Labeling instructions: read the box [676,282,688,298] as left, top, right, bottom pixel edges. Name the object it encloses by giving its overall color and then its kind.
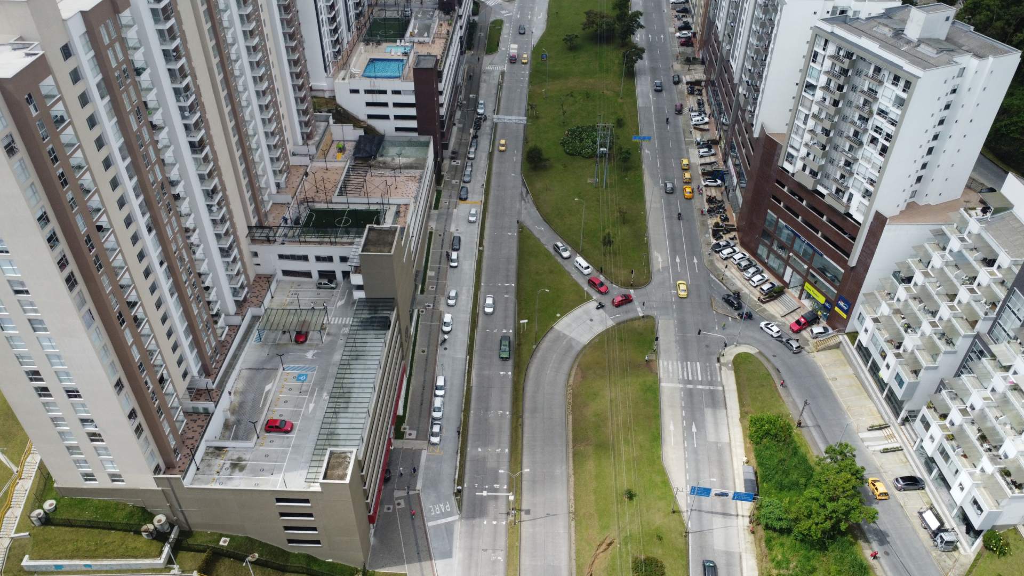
yellow vehicle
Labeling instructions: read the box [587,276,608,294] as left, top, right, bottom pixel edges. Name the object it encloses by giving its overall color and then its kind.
red car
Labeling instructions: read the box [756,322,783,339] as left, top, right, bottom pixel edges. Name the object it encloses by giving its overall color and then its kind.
white car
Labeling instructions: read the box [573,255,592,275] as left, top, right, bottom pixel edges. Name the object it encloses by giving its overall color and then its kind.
white vehicle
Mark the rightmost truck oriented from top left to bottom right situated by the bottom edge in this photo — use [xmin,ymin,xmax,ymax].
[913,505,961,552]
